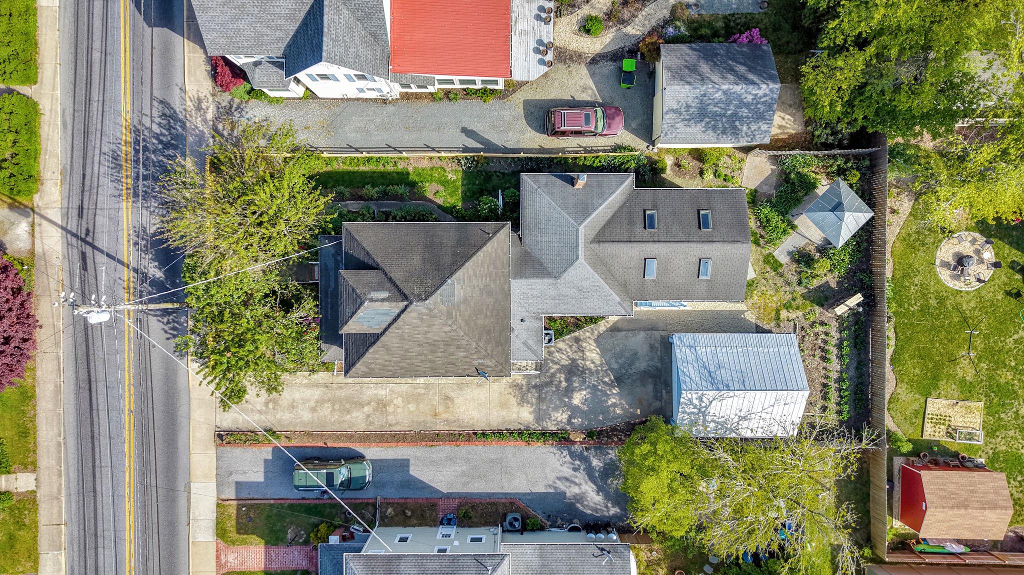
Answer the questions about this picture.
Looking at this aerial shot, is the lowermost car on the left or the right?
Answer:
left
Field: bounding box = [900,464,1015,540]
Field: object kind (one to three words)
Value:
shed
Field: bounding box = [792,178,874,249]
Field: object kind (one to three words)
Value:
gazebo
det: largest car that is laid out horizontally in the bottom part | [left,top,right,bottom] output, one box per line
[294,453,374,493]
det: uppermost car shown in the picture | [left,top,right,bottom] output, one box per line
[544,103,624,141]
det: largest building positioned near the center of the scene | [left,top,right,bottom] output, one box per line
[311,171,750,379]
